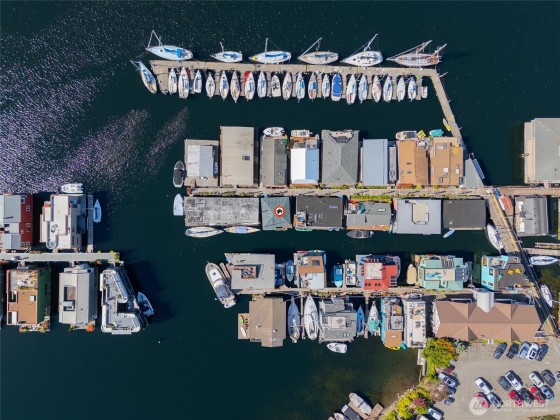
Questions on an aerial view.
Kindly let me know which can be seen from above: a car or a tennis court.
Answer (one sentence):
Of the two, only a car appears.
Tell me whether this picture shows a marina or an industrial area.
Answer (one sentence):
The area seen from above is a marina.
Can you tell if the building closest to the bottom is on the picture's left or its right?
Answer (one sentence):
The building closest to the bottom appears in the right half of the scene.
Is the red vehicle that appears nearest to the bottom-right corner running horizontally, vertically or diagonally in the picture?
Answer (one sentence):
From this overhead view, the red vehicle that appears nearest to the bottom-right corner appears to run diagonally.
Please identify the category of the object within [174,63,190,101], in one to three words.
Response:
boat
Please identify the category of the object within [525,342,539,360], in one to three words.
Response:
vehicle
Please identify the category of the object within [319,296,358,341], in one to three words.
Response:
boat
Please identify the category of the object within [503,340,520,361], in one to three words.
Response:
vehicle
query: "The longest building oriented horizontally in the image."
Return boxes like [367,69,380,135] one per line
[432,285,541,341]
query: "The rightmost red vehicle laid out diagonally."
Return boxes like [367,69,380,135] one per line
[527,384,547,405]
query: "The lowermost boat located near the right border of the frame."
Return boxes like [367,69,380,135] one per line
[540,284,560,310]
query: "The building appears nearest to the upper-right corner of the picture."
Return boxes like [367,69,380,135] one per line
[523,118,560,186]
